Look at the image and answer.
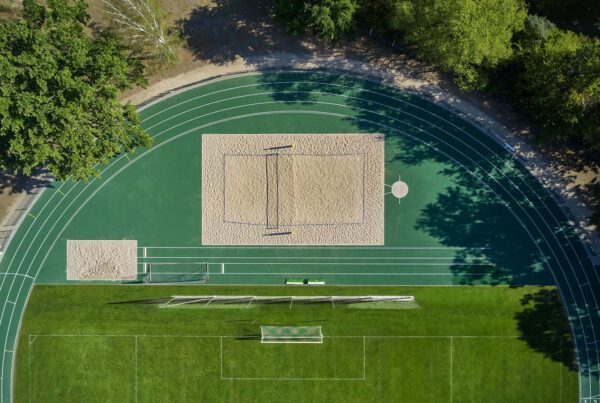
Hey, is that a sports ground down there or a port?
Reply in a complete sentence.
This image shows a sports ground.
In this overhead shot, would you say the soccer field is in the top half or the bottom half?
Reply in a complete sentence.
The soccer field is in the bottom half of the image.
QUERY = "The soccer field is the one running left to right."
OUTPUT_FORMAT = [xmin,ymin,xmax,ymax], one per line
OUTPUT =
[29,336,562,403]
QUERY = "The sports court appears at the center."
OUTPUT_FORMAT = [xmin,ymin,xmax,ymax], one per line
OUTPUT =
[202,134,385,245]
